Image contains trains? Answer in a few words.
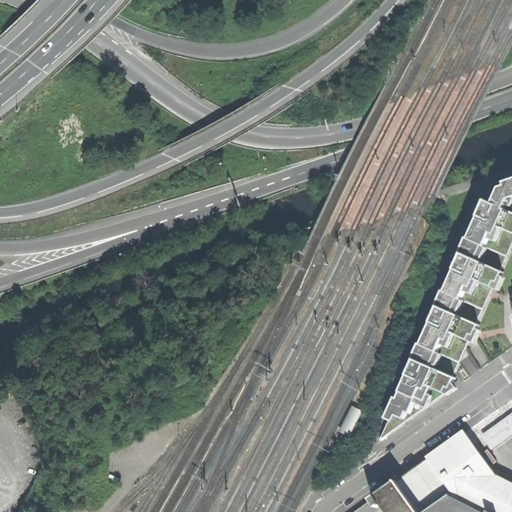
No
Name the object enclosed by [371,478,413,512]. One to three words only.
building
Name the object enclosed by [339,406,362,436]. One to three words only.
shed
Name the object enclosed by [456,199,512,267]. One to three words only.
building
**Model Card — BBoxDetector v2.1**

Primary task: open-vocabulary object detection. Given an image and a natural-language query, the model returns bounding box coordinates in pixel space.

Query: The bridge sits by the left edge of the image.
[0,0,131,84]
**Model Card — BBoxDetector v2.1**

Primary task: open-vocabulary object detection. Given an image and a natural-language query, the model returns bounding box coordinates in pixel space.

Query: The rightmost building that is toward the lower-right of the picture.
[476,412,512,470]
